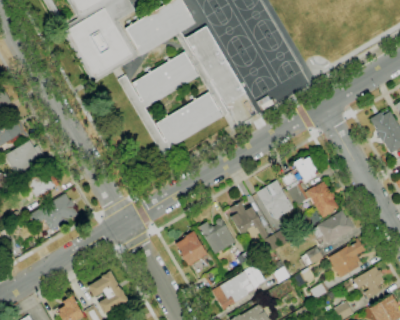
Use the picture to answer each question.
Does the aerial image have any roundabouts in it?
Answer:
No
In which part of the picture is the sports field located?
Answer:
top right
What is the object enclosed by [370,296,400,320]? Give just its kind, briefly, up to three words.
house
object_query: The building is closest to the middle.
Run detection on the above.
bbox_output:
[156,92,222,146]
